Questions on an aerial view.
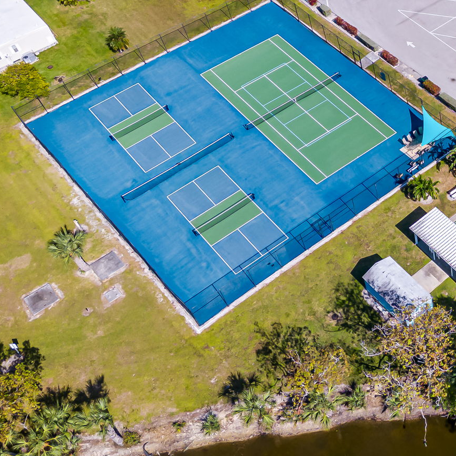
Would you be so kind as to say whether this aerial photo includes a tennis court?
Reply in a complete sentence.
Yes, the photo shows a tennis court.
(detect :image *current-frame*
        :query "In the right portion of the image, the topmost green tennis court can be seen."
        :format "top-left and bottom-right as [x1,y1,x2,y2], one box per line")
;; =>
[201,34,396,184]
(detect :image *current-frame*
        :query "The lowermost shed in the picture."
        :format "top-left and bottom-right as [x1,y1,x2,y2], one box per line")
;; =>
[362,257,434,327]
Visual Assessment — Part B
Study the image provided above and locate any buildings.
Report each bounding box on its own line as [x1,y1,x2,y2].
[409,209,456,270]
[362,257,434,327]
[0,0,58,69]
